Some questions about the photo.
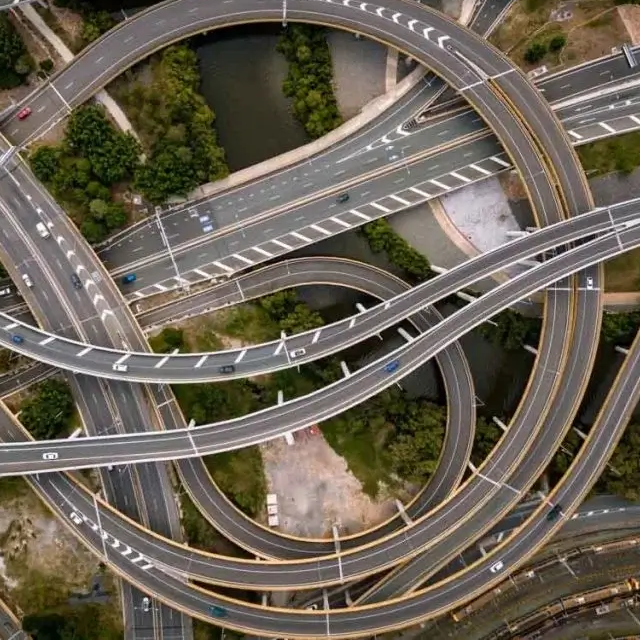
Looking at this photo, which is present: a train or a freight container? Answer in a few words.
train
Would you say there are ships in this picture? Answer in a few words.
No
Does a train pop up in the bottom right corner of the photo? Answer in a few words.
Yes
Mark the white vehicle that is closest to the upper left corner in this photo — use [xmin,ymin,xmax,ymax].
[35,223,47,237]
